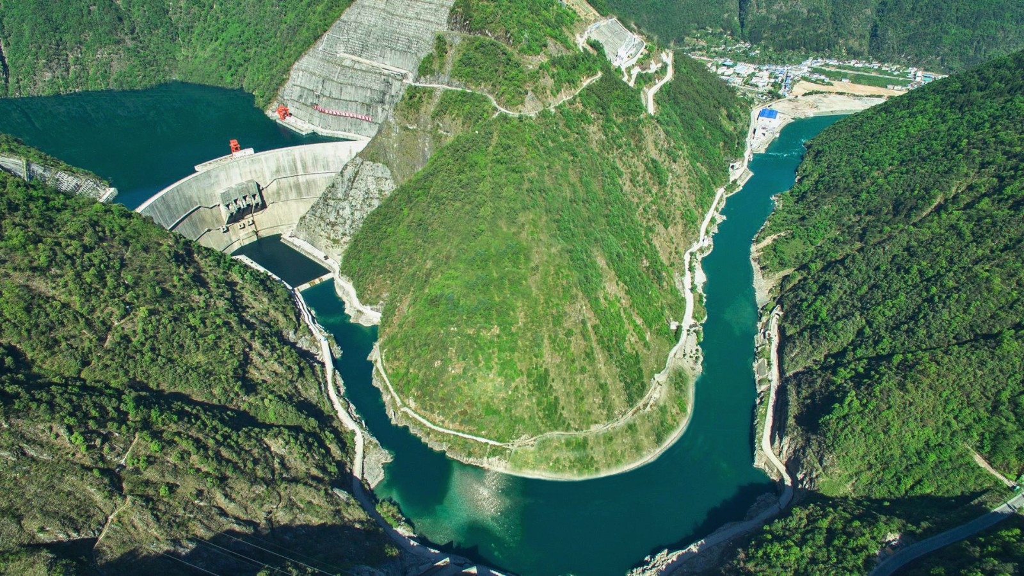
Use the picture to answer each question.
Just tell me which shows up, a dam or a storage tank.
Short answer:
dam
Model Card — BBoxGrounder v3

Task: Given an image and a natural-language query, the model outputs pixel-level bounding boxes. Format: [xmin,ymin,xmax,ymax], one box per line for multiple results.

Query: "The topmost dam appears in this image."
[128,138,379,251]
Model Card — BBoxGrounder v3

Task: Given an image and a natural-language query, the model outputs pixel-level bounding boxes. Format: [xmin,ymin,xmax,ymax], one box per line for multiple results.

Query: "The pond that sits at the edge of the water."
[0,81,341,213]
